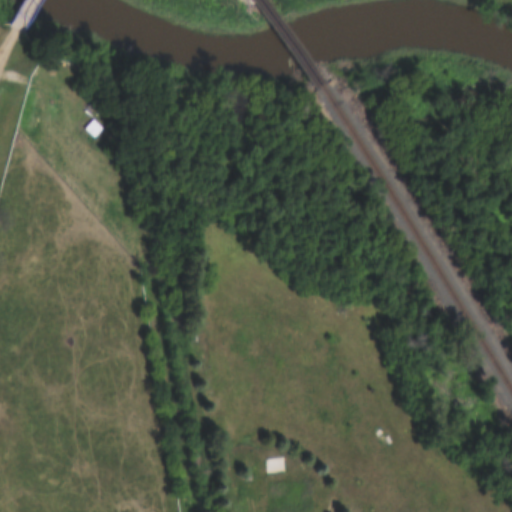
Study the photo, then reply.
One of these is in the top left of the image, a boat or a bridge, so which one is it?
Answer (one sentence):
The one visible in the top left of the image is a bridge.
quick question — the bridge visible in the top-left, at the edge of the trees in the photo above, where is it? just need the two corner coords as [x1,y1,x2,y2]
[10,0,46,34]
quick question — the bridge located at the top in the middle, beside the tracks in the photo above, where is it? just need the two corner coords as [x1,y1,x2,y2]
[256,0,336,98]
